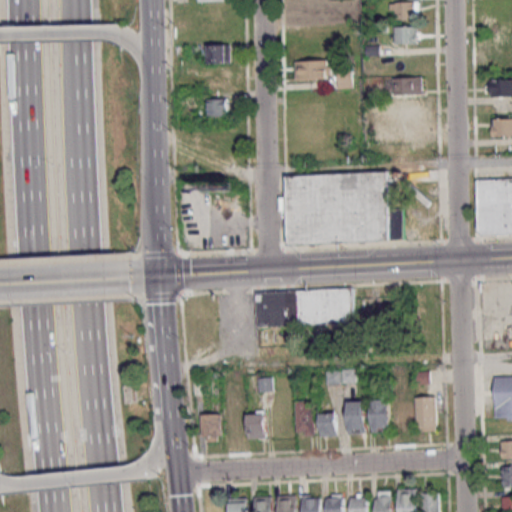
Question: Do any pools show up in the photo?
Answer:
No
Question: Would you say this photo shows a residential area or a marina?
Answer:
residential area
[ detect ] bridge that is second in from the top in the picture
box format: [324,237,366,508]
[0,252,147,306]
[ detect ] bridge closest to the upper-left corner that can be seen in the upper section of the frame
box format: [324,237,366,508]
[0,24,142,70]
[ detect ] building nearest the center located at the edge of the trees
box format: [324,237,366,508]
[256,290,298,328]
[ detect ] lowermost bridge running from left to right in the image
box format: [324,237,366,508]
[0,417,167,494]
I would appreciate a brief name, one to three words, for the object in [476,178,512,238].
building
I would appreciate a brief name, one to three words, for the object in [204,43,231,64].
house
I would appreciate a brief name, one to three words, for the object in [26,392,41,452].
vehicle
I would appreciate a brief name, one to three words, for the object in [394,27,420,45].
house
